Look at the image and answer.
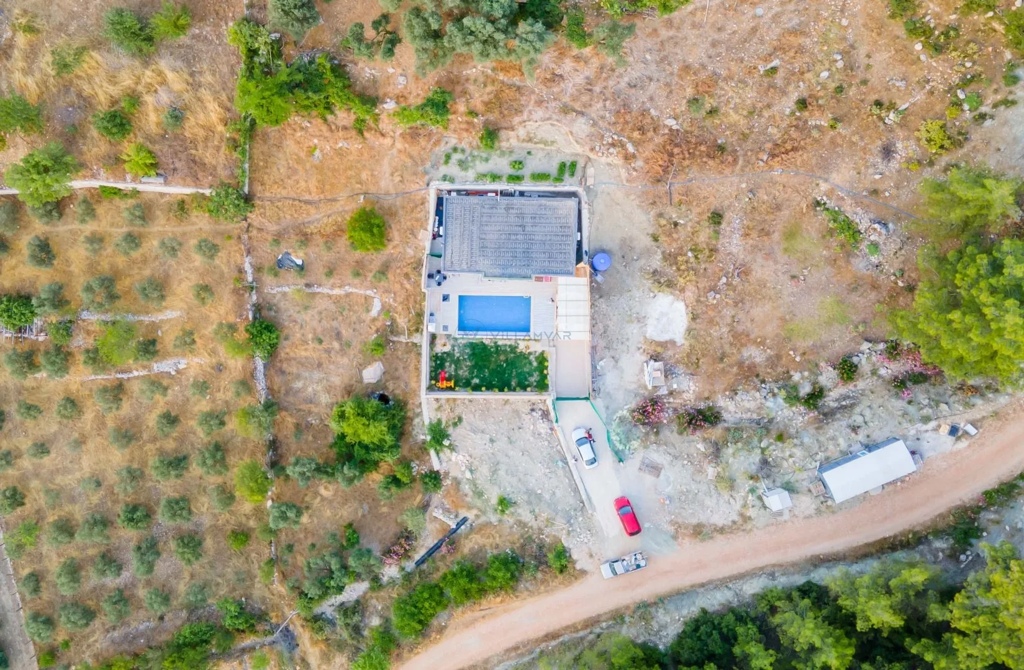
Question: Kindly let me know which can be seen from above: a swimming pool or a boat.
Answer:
swimming pool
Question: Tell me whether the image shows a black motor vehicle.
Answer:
No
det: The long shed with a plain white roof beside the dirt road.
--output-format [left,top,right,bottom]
[814,438,915,504]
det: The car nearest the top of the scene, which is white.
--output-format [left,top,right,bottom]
[571,427,600,473]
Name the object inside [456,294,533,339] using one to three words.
swimming pool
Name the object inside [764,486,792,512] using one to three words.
shed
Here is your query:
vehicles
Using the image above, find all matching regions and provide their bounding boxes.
[600,554,650,581]
[571,427,600,473]
[616,497,642,540]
